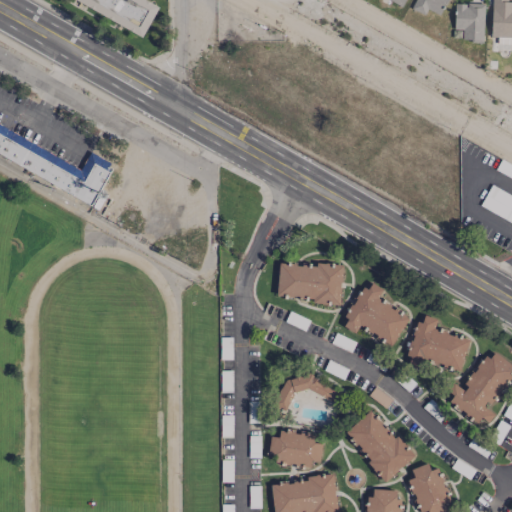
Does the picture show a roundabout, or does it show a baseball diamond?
baseball diamond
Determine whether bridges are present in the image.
No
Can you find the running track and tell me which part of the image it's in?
bottom left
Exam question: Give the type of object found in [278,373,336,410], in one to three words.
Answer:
building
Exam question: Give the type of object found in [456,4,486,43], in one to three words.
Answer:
house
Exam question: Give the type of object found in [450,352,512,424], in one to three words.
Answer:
building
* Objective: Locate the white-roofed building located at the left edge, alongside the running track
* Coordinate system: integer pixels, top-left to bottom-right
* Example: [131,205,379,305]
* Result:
[0,124,112,205]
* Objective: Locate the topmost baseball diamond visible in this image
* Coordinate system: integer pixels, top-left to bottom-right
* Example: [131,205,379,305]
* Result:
[8,210,57,294]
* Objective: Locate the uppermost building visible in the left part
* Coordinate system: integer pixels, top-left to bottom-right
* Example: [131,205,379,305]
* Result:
[79,0,160,38]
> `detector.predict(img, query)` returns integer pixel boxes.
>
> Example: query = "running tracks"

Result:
[25,247,183,512]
